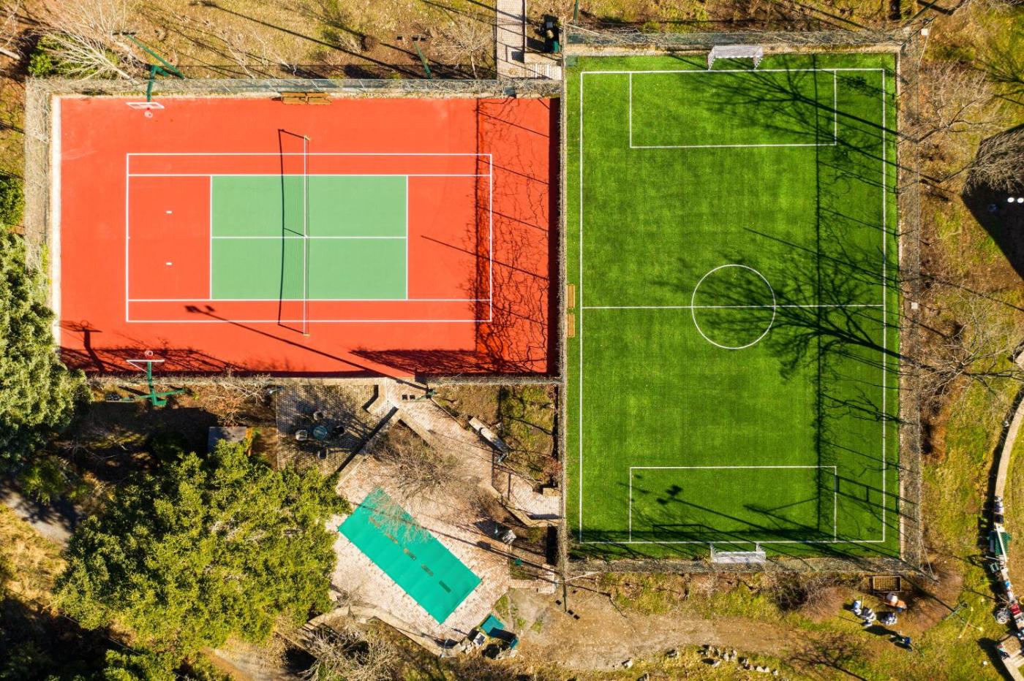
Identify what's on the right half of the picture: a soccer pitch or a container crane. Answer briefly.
soccer pitch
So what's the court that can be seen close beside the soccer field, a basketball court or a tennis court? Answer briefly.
tennis court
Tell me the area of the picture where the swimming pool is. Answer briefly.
bottom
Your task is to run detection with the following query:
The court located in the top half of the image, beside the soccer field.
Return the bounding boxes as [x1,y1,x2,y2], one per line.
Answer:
[59,97,560,379]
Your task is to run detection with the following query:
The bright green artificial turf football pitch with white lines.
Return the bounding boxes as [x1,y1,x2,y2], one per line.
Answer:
[566,54,898,560]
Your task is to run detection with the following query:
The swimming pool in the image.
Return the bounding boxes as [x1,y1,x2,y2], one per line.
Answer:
[336,486,483,626]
